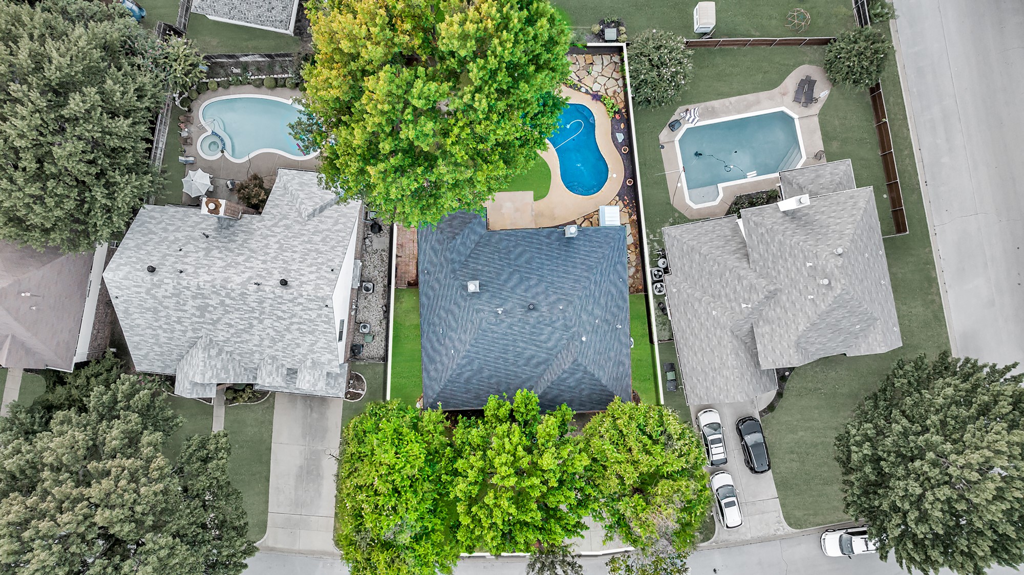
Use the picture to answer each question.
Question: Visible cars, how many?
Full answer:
The count of cars comes to 4.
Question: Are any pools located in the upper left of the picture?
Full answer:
Yes, in the upper left of the picture there is a pool.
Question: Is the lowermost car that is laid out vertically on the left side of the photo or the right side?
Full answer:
It is on the right.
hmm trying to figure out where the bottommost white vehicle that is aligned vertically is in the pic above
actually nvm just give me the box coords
[708,470,742,529]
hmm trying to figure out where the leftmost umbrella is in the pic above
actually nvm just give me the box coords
[172,165,203,196]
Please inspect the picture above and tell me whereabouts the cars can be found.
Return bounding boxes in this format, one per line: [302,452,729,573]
[735,415,770,475]
[695,409,727,467]
[819,525,885,558]
[708,470,742,529]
